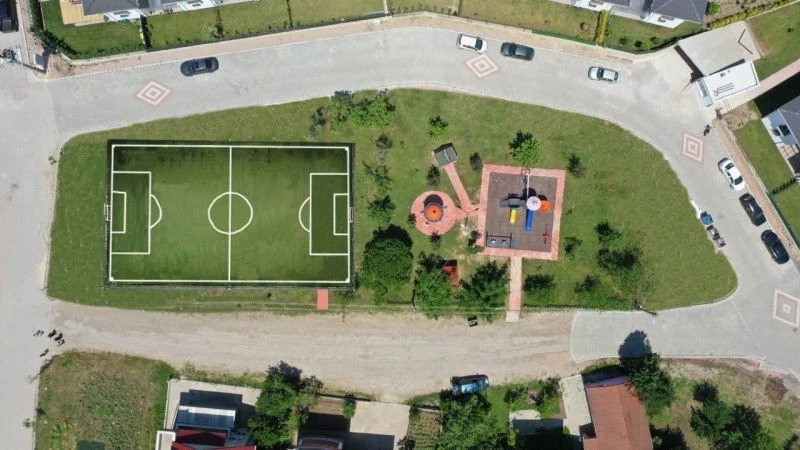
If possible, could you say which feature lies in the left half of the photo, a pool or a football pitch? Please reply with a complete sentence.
It is a football pitch that can be seen in the left half of the photo.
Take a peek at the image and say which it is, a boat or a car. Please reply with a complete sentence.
Looking from above, you can make out a car.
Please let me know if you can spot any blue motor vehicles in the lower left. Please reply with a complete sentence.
No, there's no blue motor vehicle to be seen in the lower left.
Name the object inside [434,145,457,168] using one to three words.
building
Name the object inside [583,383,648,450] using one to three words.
house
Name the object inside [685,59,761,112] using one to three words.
building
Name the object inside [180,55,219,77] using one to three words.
car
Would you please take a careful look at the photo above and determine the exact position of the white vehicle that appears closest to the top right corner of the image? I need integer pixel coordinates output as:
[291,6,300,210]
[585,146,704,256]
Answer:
[717,157,747,191]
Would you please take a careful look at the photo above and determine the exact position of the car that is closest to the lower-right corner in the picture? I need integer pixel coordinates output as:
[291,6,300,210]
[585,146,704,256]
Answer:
[759,229,791,266]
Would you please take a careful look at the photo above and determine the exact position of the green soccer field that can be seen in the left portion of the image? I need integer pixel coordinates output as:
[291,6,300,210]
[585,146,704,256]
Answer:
[107,141,353,289]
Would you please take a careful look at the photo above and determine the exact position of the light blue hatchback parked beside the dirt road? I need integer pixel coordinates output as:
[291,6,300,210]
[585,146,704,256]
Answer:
[452,376,488,395]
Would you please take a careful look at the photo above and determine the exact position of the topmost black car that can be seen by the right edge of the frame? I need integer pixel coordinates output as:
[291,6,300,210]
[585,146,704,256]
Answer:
[737,191,767,227]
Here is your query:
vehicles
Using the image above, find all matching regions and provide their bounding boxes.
[0,49,17,58]
[452,376,488,395]
[180,55,219,77]
[717,157,747,191]
[455,34,488,54]
[759,229,791,266]
[0,0,19,32]
[737,191,767,227]
[587,65,620,84]
[500,41,536,62]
